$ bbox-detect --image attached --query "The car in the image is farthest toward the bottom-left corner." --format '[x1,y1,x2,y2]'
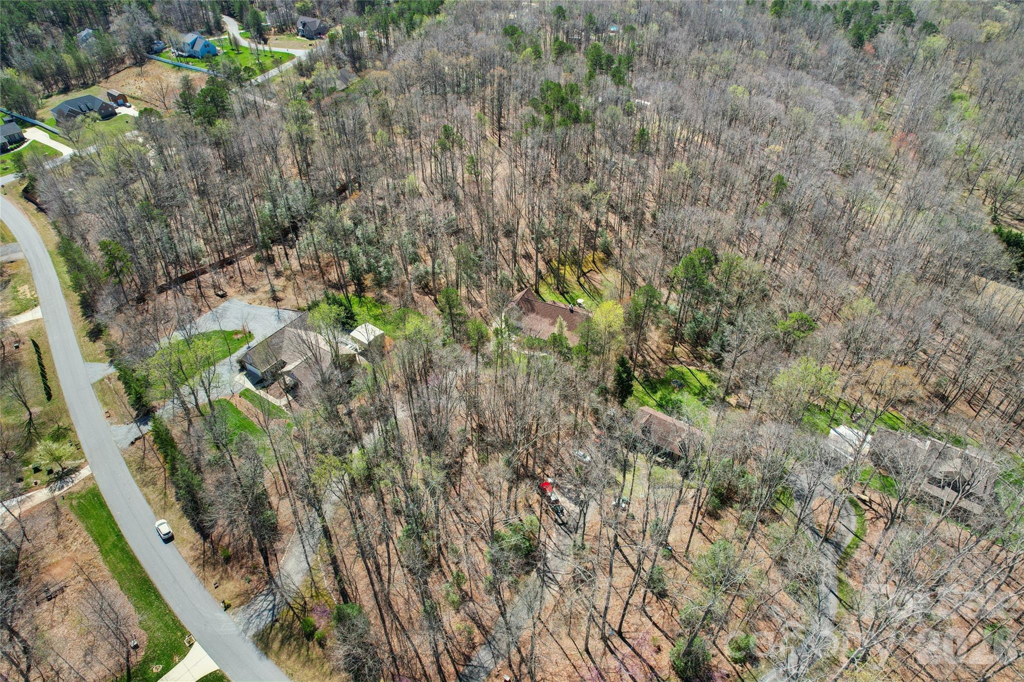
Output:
[154,520,171,542]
